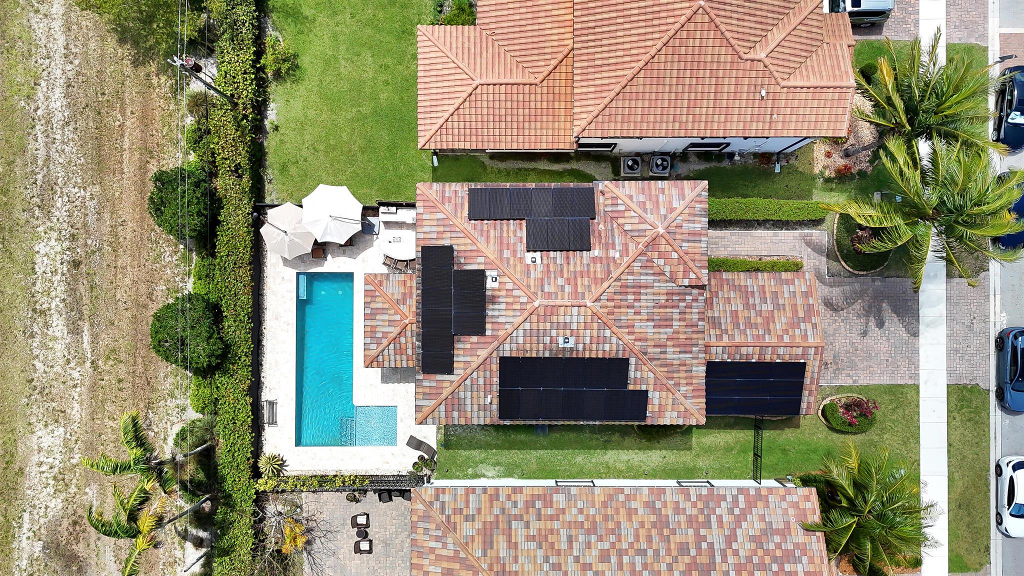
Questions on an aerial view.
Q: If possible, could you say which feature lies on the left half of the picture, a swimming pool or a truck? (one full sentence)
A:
Looking on the left half of the picture, you will find a swimming pool.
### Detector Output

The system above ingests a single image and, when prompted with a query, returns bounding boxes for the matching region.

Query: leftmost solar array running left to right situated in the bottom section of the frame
[496,358,650,422]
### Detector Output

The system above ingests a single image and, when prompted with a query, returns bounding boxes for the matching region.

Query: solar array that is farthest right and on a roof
[706,359,807,417]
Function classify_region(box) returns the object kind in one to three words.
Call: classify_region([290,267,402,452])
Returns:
swimming pool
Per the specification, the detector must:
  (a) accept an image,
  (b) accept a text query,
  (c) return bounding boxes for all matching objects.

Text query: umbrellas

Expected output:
[259,202,316,259]
[302,184,373,244]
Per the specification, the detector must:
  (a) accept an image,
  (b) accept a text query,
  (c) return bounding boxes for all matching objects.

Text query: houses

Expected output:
[415,0,861,159]
[408,479,833,576]
[362,178,828,435]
